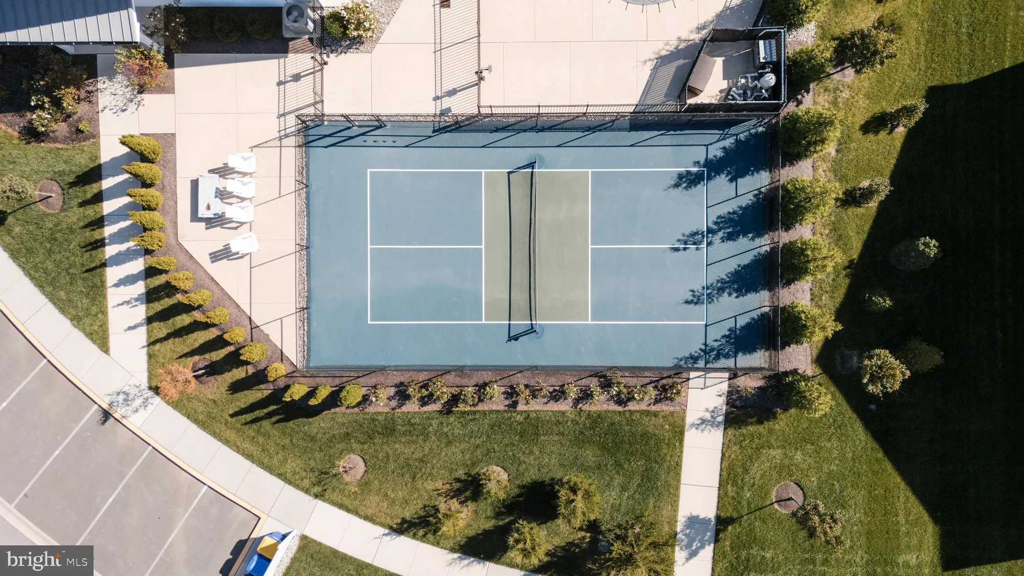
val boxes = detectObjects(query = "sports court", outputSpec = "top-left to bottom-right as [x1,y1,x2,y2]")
[306,119,770,369]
